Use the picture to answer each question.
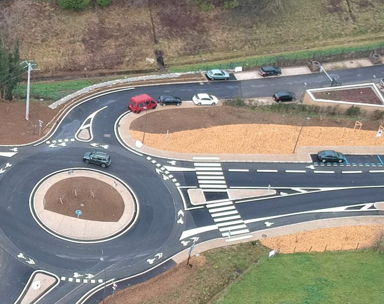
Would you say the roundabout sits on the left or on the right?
left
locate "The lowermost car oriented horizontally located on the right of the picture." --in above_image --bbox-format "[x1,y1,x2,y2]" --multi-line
[316,148,348,162]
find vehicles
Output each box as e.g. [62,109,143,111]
[272,90,298,101]
[191,92,220,104]
[158,92,183,104]
[257,62,284,77]
[83,150,111,166]
[316,148,348,162]
[129,95,158,113]
[203,68,232,80]
[377,77,384,87]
